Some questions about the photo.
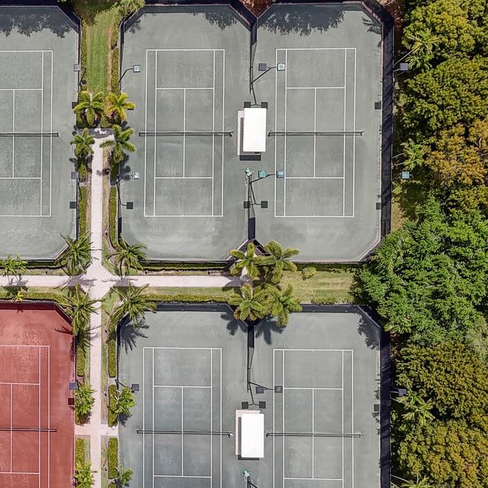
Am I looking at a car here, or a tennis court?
tennis court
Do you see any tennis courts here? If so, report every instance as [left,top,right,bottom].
[118,306,248,488]
[0,301,76,488]
[118,4,251,260]
[0,5,79,260]
[253,305,381,488]
[254,2,382,262]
